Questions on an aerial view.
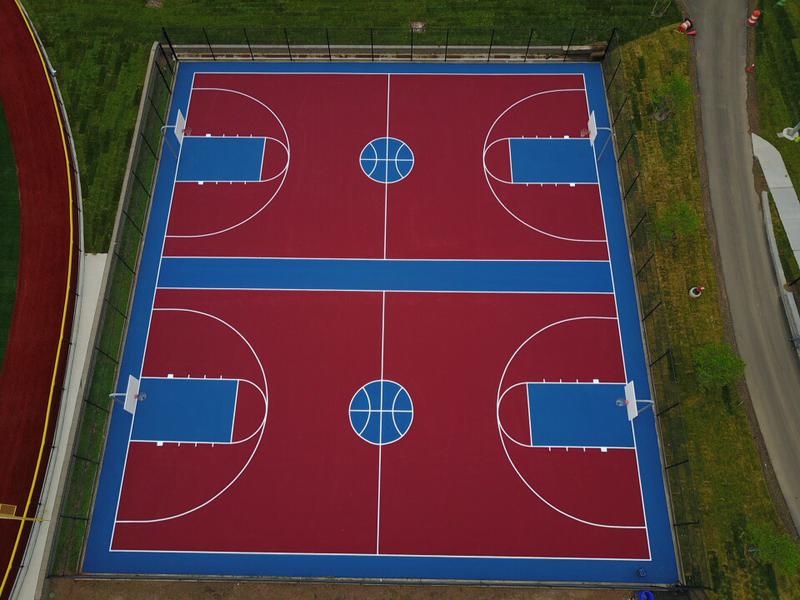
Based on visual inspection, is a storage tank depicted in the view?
No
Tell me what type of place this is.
sports ground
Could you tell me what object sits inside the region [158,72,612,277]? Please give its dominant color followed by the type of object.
red basketball court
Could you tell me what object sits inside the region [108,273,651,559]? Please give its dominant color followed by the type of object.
red basketball court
